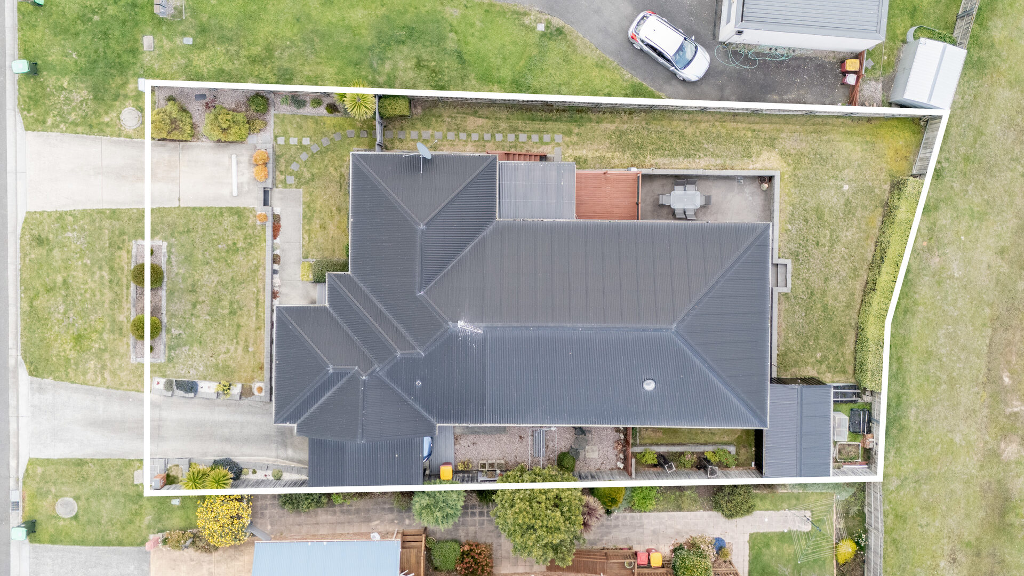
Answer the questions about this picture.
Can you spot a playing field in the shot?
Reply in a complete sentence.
No, I can't see a single playing field in this photo.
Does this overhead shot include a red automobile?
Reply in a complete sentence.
No, the photo shows no red automobile.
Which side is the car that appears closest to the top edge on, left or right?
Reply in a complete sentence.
The car that appears closest to the top edge sits on the right side.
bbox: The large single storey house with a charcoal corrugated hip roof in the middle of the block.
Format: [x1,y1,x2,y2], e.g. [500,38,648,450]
[271,151,773,442]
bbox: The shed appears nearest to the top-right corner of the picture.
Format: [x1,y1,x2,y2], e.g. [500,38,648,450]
[890,36,968,111]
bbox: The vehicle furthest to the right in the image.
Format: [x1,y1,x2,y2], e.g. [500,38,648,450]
[624,10,709,84]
